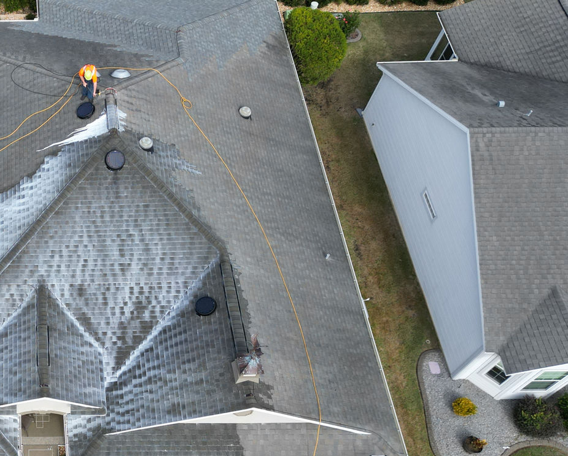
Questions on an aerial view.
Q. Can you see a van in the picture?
No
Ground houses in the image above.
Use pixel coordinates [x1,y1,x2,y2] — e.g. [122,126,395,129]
[357,0,568,398]
[0,0,409,456]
